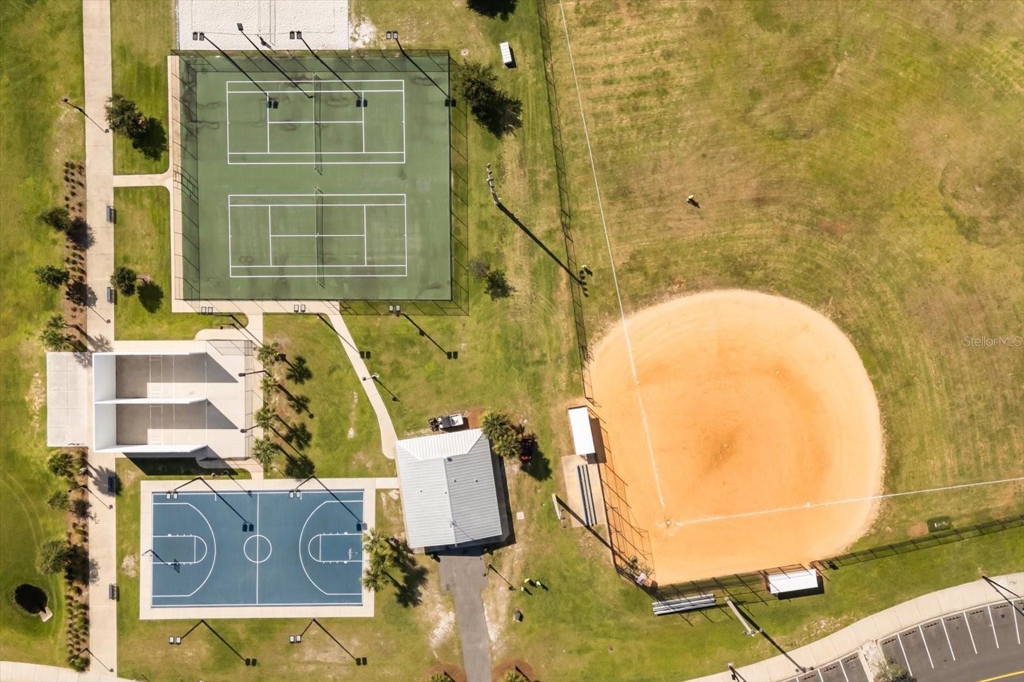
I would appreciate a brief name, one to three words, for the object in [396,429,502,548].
building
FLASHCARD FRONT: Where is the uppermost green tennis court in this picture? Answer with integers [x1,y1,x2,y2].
[179,56,452,178]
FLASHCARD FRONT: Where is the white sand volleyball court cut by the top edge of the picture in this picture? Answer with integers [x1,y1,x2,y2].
[176,0,350,49]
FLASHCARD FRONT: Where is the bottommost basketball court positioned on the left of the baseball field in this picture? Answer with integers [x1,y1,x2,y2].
[151,490,363,608]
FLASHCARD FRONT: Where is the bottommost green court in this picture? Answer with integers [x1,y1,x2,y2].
[181,178,453,300]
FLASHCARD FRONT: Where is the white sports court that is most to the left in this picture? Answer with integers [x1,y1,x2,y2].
[93,340,252,459]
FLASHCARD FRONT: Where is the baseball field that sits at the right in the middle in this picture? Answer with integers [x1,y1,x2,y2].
[541,0,1024,590]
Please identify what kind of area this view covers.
sports ground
